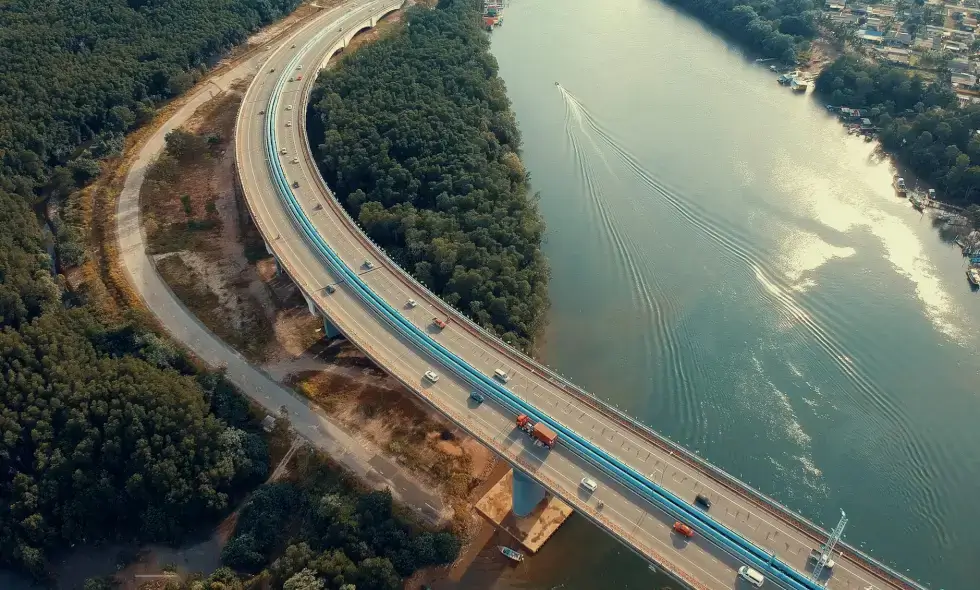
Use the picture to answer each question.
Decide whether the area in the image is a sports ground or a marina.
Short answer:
marina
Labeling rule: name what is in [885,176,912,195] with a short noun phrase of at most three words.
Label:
boat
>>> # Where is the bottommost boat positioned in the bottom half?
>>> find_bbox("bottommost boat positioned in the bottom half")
[499,546,526,560]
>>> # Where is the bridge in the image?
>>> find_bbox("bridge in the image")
[236,0,924,590]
